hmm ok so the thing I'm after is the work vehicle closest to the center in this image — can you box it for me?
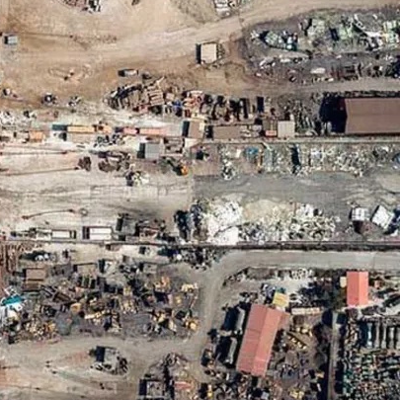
[172,158,192,177]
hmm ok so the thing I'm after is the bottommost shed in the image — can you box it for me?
[145,377,163,397]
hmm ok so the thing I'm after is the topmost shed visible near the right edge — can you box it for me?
[334,98,400,135]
